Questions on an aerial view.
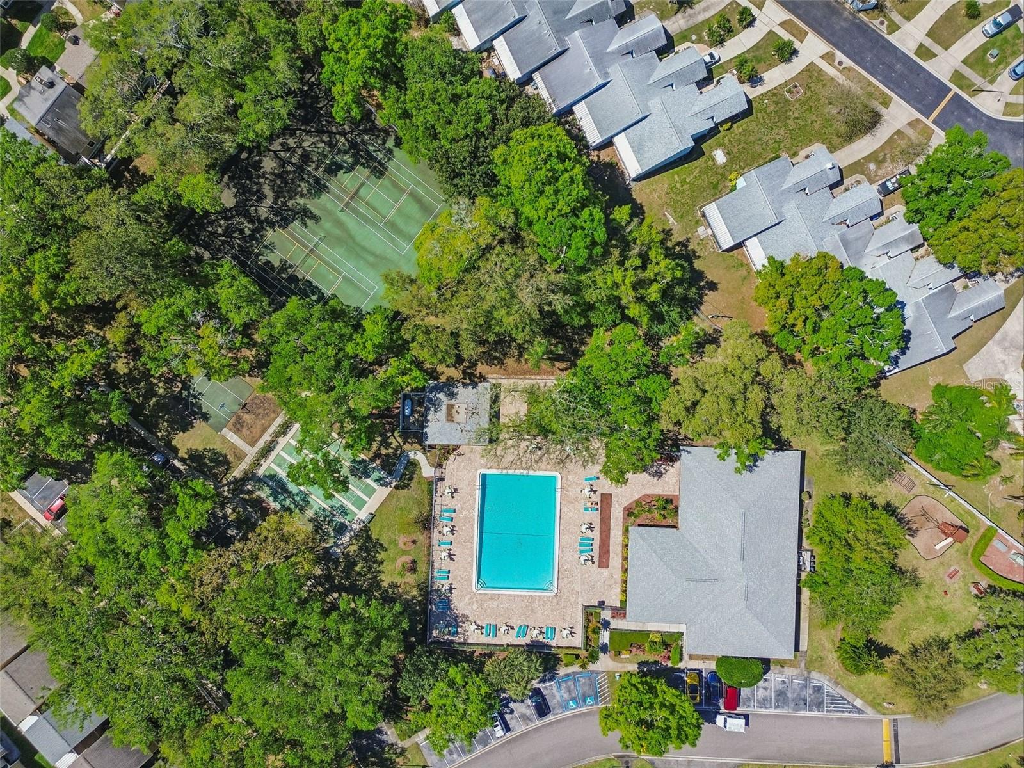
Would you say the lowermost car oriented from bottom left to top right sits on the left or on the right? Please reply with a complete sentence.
The lowermost car oriented from bottom left to top right appears in the left half of the scene.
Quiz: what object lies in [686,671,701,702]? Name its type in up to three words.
car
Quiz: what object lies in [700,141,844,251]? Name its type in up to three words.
house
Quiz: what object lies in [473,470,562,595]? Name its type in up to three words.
swimming pool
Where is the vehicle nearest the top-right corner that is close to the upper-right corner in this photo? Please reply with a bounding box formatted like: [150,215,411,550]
[983,4,1024,37]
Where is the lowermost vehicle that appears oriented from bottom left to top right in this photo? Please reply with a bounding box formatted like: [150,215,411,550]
[42,493,70,523]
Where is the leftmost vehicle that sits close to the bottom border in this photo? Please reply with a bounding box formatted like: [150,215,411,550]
[488,707,509,740]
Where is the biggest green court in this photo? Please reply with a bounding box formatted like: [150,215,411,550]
[177,62,486,362]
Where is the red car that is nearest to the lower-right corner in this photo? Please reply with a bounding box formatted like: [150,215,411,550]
[724,686,739,713]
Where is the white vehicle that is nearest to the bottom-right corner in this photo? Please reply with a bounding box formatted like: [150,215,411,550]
[715,713,748,734]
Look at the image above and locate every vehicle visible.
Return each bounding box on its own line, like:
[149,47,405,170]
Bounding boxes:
[488,707,509,740]
[875,166,914,196]
[706,670,721,703]
[715,713,748,734]
[724,686,739,713]
[983,4,1024,37]
[1008,59,1024,79]
[42,493,70,523]
[531,685,549,719]
[686,671,701,702]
